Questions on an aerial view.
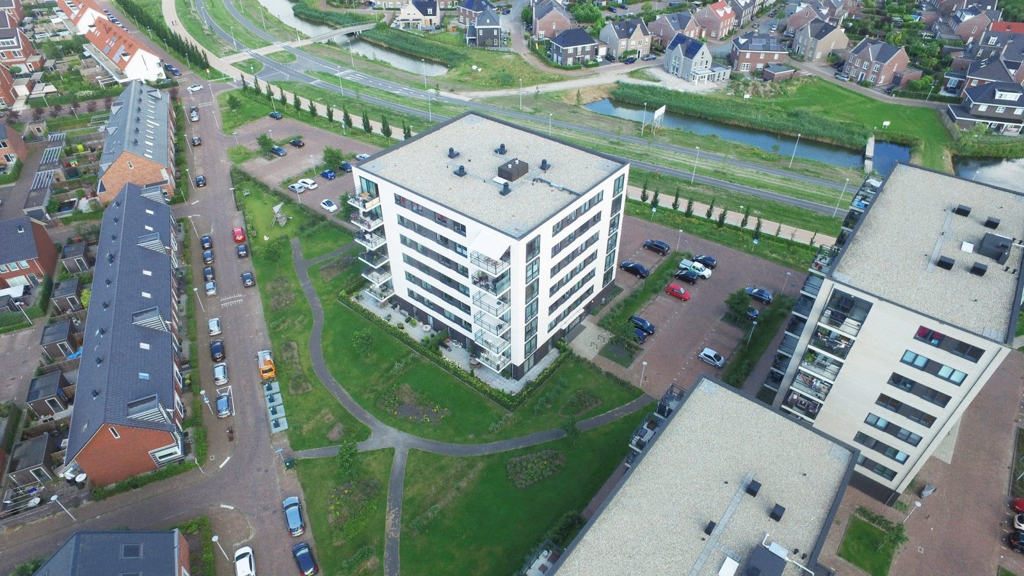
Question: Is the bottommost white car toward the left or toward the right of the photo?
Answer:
left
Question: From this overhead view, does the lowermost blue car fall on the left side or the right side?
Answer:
left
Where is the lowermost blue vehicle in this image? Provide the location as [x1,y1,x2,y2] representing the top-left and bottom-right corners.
[291,536,319,576]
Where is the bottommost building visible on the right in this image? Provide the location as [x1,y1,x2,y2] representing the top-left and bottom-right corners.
[521,377,859,576]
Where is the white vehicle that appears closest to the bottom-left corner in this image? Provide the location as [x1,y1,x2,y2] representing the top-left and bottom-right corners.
[230,542,257,576]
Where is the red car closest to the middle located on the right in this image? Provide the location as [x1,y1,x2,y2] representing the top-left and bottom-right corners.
[663,281,693,301]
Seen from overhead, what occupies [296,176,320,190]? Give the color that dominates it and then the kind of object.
white car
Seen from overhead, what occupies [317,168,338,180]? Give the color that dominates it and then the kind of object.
blue vehicle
